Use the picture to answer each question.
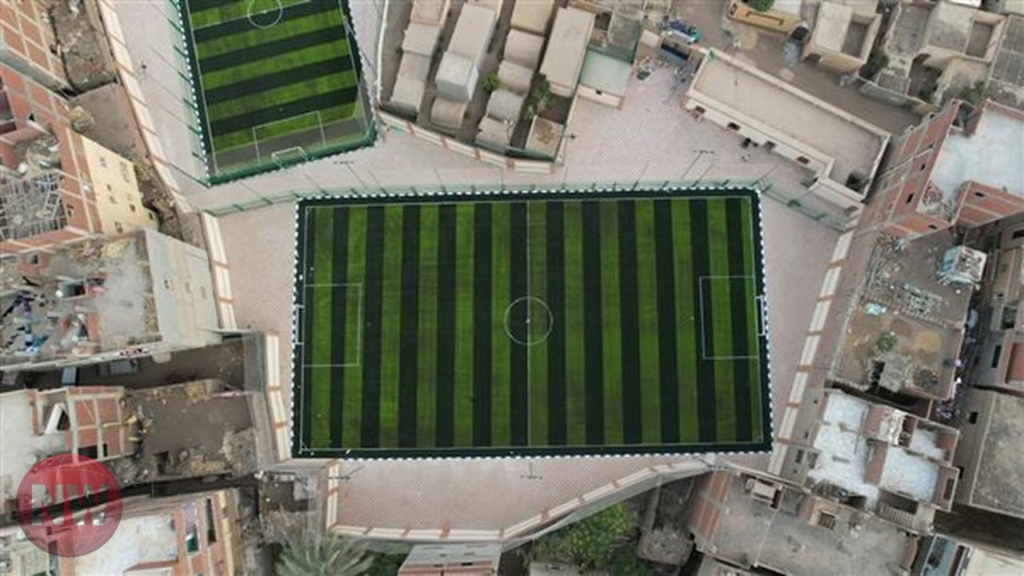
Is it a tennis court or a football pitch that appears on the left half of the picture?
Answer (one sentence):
Looking on the left half of the picture, you will find a football pitch.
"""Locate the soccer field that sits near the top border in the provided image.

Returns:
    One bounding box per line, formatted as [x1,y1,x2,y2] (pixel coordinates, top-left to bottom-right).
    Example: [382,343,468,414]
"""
[179,0,381,189]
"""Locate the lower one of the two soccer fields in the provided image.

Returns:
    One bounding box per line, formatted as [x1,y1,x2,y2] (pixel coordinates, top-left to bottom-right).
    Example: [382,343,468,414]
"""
[291,188,775,462]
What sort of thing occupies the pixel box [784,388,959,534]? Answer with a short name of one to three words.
house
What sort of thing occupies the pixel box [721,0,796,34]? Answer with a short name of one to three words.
house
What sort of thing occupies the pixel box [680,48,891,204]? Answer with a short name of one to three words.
building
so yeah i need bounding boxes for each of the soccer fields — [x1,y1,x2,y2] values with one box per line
[179,0,381,189]
[291,188,775,462]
